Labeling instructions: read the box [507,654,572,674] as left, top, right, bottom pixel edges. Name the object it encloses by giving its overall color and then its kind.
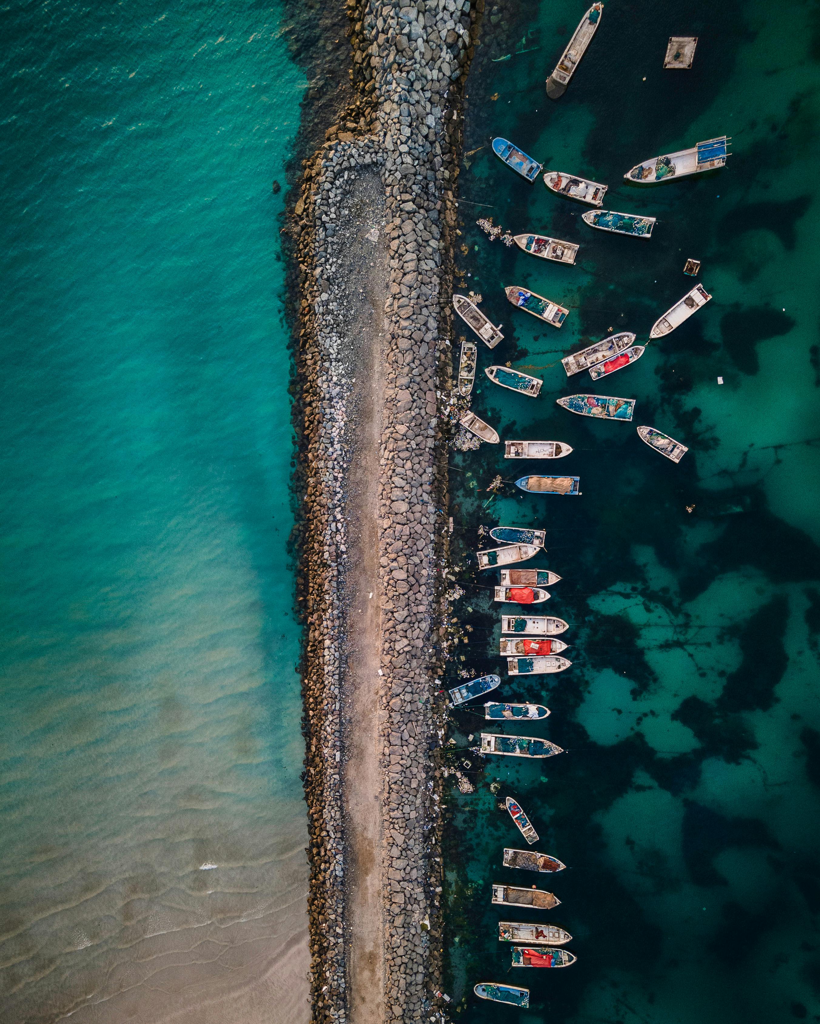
white boat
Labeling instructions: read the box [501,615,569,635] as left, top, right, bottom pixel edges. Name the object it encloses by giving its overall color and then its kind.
white boat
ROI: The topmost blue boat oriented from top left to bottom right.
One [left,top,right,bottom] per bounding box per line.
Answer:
[491,137,544,182]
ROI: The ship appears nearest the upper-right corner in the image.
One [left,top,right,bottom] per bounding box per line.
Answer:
[663,35,699,70]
